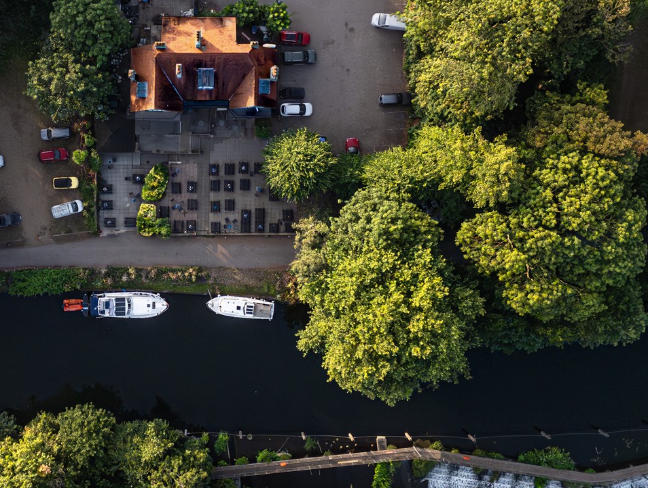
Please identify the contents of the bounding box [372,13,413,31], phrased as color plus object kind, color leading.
white vehicle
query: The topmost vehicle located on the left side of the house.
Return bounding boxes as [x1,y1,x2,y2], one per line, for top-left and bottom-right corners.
[40,126,71,140]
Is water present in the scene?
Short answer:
Yes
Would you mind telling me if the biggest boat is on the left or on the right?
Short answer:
left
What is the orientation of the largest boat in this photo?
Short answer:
from left to right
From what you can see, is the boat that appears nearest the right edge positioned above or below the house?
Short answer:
below it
